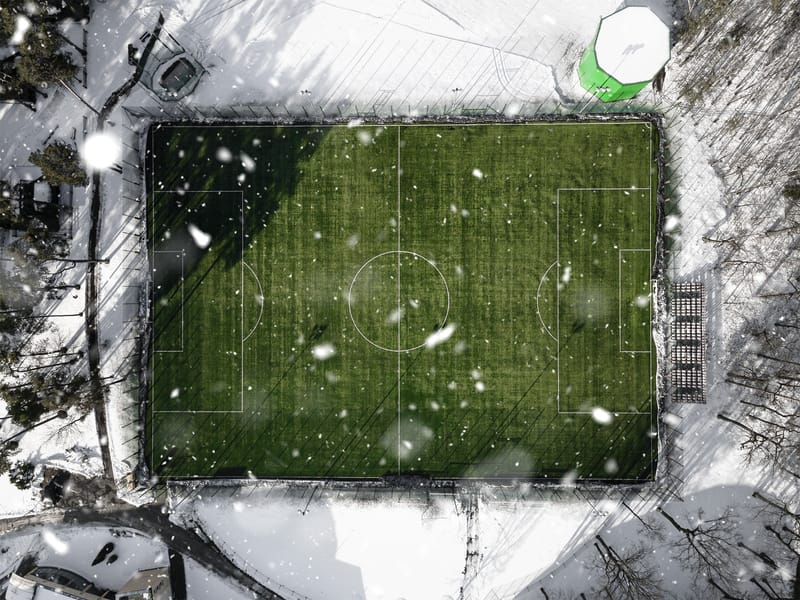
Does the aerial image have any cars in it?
No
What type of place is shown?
sports ground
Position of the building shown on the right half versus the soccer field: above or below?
above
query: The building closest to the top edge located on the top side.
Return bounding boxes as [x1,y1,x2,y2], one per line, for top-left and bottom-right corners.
[580,5,672,102]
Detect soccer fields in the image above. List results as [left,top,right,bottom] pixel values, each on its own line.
[139,112,668,489]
